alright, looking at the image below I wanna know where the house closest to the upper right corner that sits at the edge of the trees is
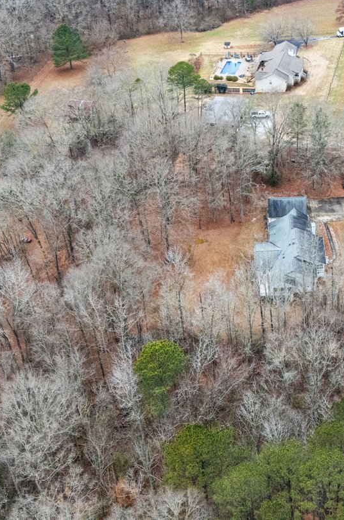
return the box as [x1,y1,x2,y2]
[255,38,315,90]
